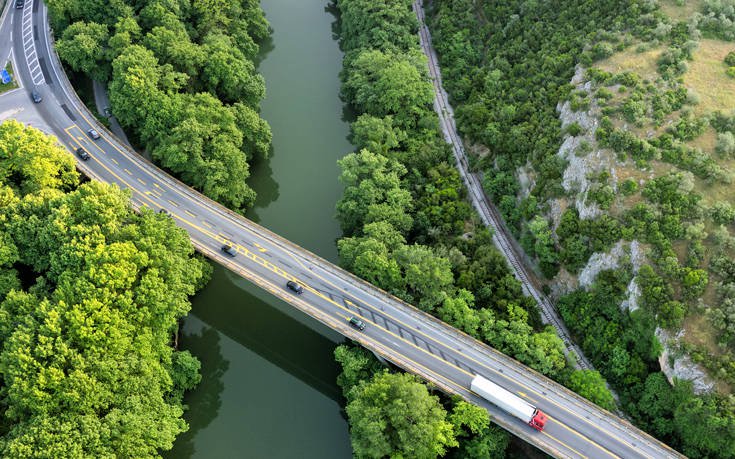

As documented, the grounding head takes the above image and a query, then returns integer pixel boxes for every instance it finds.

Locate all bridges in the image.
[52,116,699,459]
